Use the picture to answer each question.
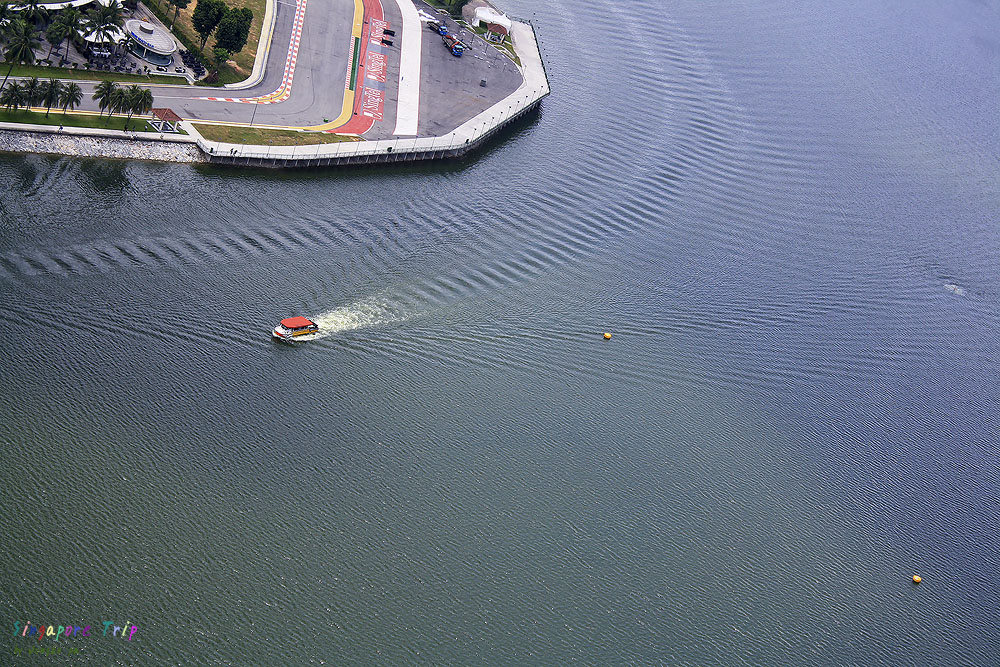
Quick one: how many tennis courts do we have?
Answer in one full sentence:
The picture shows no tennis courts.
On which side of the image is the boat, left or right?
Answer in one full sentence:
The boat is on the left side of the image.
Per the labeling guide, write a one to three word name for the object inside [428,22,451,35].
vehicle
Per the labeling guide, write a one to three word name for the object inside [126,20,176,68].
building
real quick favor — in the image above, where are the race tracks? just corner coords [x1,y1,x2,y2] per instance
[0,0,524,142]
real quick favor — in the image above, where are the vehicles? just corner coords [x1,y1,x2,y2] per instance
[428,22,451,35]
[443,35,470,57]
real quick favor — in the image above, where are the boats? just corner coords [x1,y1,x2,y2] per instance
[274,313,322,336]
